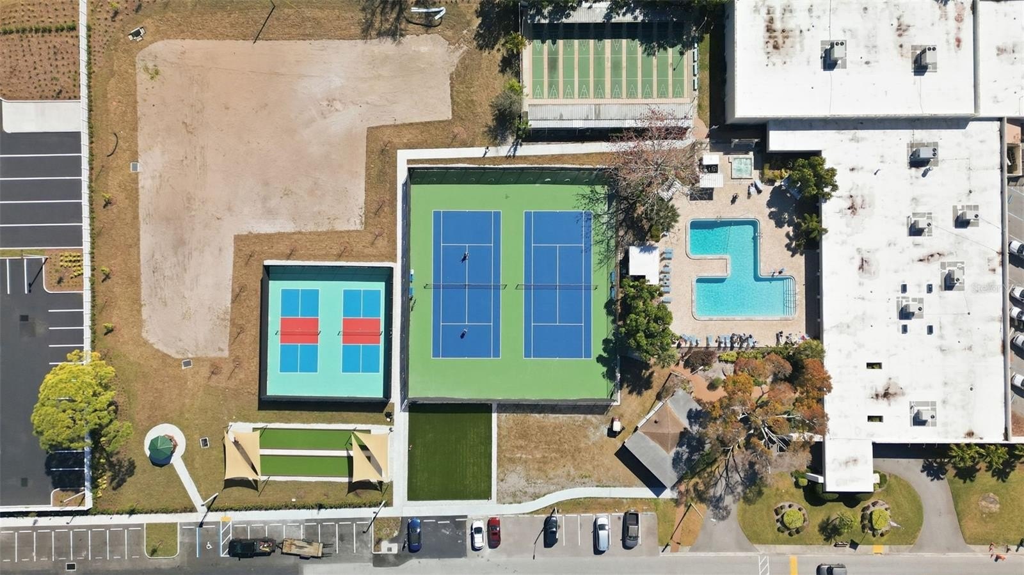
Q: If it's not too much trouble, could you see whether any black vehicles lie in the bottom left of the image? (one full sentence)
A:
Yes, there is a black vehicle in the bottom left of the image.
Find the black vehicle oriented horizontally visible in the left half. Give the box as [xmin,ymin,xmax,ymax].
[230,539,273,556]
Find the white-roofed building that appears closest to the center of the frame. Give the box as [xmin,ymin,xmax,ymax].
[629,247,659,284]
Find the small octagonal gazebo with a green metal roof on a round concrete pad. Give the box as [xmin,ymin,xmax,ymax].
[148,433,182,462]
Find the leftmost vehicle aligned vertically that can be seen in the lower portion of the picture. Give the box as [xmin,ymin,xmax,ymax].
[408,518,422,548]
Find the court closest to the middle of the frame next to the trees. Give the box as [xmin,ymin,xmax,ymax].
[409,169,618,399]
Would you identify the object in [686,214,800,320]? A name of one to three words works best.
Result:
swimming pool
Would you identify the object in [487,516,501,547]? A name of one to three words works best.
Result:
car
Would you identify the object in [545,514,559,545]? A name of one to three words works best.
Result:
car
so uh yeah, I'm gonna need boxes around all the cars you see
[1010,376,1024,392]
[408,518,422,548]
[1009,287,1024,303]
[1009,335,1024,351]
[596,514,610,548]
[471,519,485,549]
[1009,308,1024,324]
[815,563,847,575]
[545,514,559,545]
[1008,243,1024,259]
[487,516,501,547]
